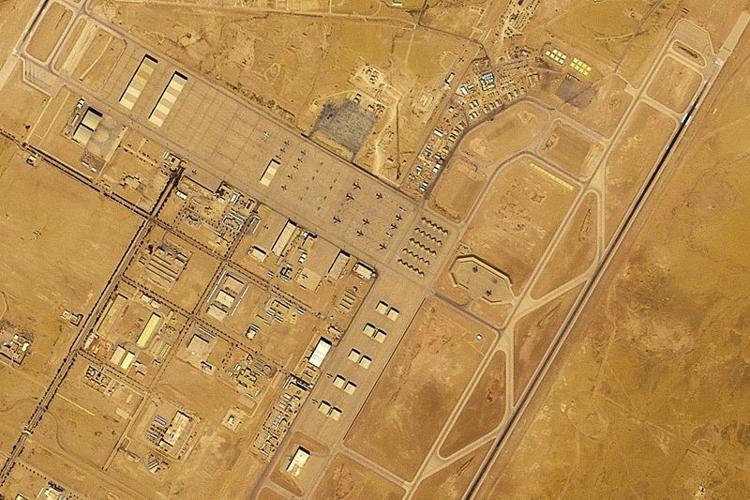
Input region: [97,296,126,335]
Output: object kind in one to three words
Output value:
building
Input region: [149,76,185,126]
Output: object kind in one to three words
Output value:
hangar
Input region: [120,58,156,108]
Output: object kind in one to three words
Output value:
hangar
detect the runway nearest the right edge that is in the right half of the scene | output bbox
[462,54,726,500]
